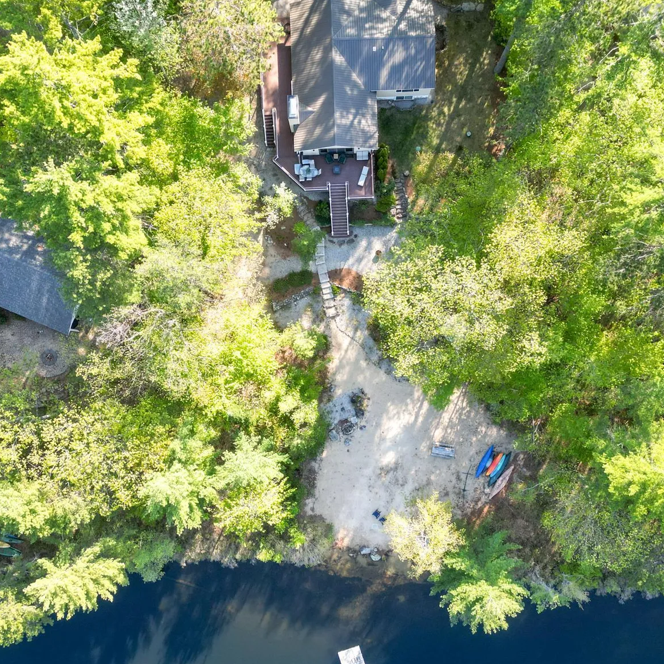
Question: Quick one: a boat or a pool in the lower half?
boat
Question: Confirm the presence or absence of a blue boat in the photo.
Yes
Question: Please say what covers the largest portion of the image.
trees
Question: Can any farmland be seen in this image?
No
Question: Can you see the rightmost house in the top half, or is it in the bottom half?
top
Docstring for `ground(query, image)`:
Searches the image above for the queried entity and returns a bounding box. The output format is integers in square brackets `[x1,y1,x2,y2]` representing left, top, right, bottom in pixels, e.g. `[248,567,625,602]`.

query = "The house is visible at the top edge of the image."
[286,0,436,153]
